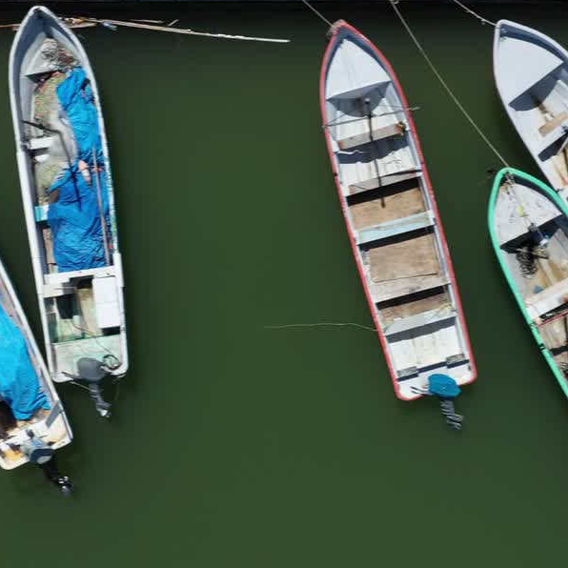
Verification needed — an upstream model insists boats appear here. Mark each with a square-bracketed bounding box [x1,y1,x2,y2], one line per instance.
[492,166,568,393]
[318,20,475,426]
[11,6,130,417]
[0,255,75,494]
[492,18,568,204]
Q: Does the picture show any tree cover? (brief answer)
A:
No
